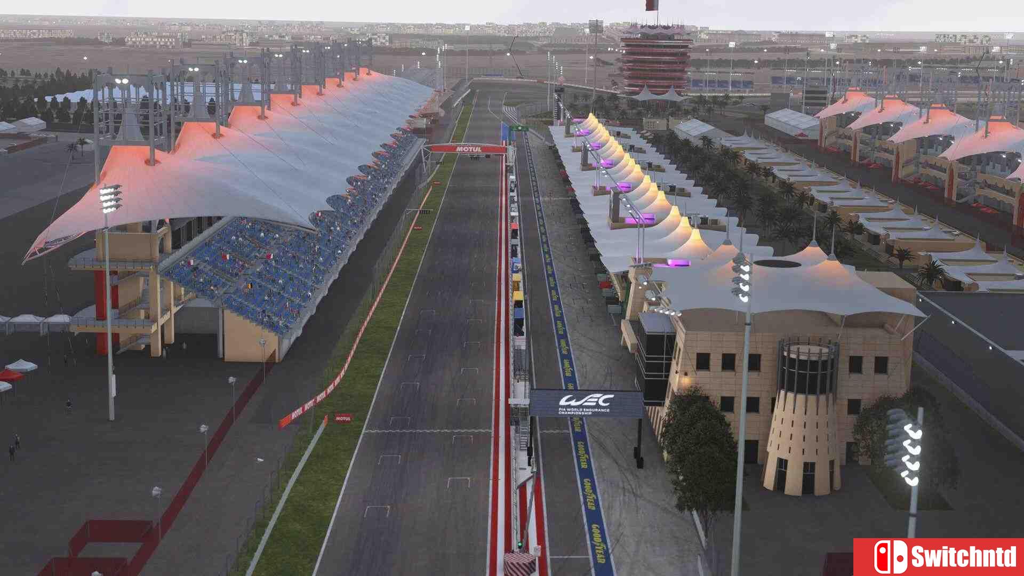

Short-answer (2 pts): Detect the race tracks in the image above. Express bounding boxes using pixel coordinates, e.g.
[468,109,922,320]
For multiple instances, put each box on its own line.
[314,90,506,576]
